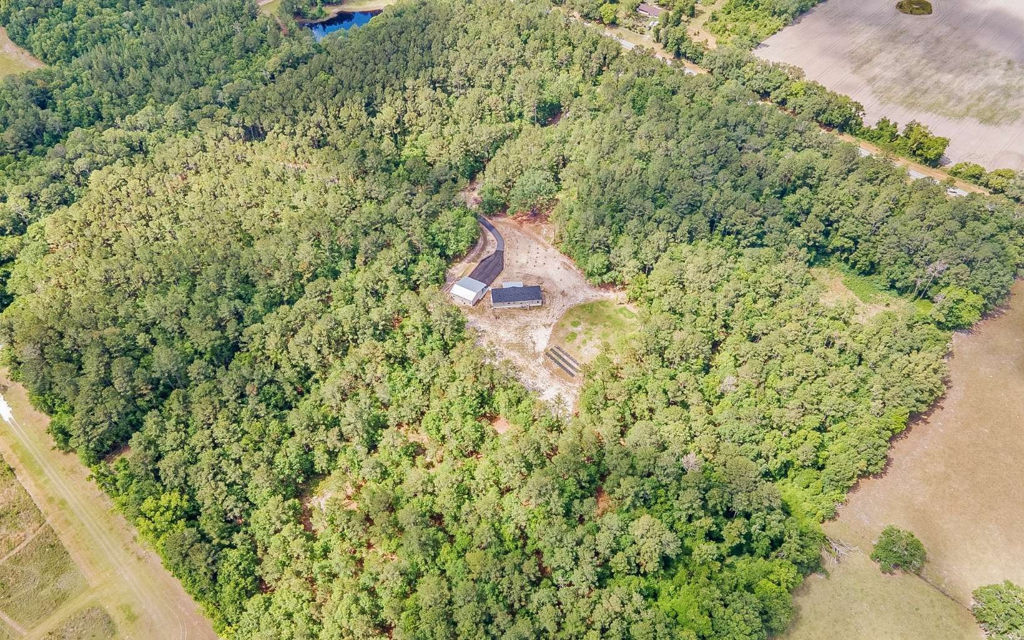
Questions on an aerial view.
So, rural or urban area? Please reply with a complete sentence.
From above, the setting appears rural.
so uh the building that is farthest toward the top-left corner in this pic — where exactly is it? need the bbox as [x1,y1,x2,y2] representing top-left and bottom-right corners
[449,276,491,307]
